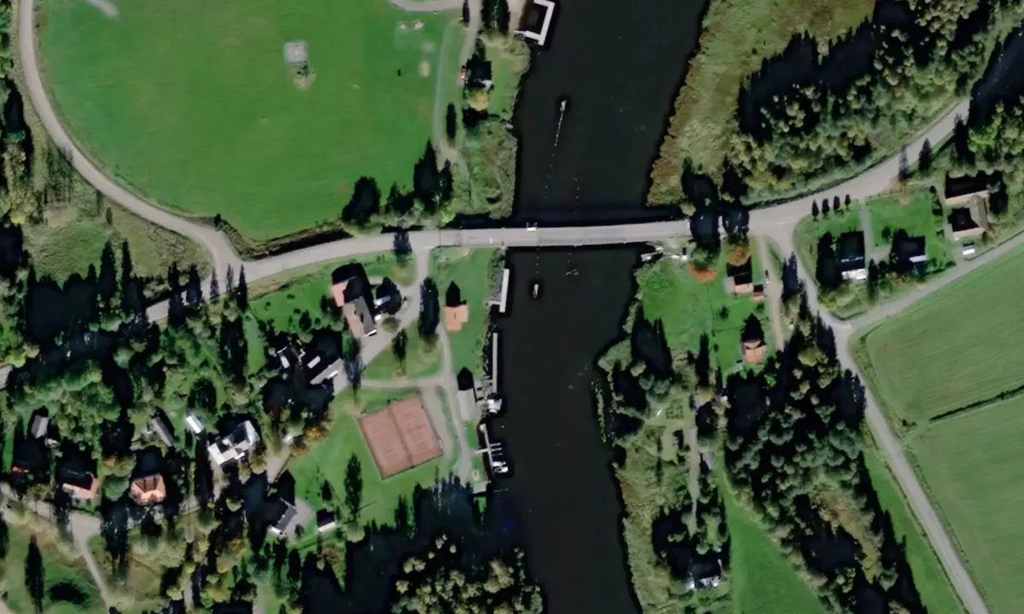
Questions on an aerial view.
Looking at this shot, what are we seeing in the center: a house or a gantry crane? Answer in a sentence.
Visible in the center is a house.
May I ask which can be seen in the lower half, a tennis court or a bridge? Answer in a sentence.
It is a tennis court that can be seen in the lower half.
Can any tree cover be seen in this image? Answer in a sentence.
Yes, there is tree cover in the image.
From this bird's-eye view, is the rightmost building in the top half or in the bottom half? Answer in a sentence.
The rightmost building sits in the top half of the picture.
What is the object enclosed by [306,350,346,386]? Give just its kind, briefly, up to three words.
shed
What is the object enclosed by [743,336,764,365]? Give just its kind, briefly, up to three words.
house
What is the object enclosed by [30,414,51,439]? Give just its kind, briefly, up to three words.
shed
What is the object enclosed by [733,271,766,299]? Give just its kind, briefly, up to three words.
house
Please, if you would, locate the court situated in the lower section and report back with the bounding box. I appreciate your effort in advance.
[359,396,443,479]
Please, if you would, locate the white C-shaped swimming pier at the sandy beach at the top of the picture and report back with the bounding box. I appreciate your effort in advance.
[517,0,555,45]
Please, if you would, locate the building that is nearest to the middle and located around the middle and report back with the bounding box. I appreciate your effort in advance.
[443,304,468,332]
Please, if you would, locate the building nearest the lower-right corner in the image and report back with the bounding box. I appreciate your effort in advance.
[684,566,724,591]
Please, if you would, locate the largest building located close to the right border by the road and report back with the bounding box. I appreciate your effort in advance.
[944,186,993,241]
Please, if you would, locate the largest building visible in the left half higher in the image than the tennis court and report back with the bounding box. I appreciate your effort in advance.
[329,276,378,340]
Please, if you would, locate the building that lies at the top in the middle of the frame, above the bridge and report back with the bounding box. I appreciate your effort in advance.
[466,67,493,89]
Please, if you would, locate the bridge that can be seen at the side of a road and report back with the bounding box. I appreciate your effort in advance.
[445,218,693,248]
